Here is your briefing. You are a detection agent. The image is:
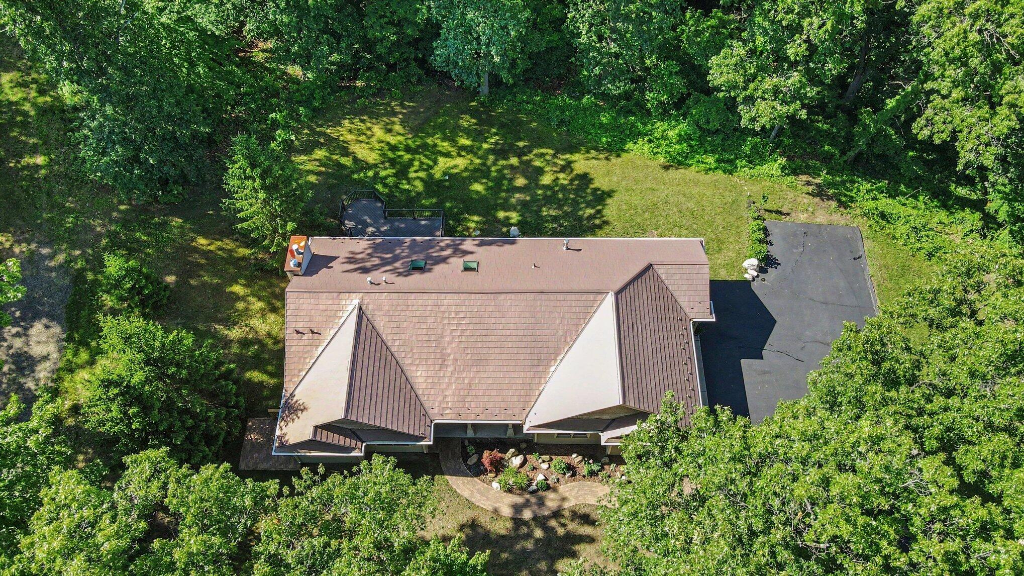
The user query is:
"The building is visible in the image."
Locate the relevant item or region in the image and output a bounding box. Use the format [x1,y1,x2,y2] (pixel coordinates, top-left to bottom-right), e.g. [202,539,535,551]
[273,236,717,463]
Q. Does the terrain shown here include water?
No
